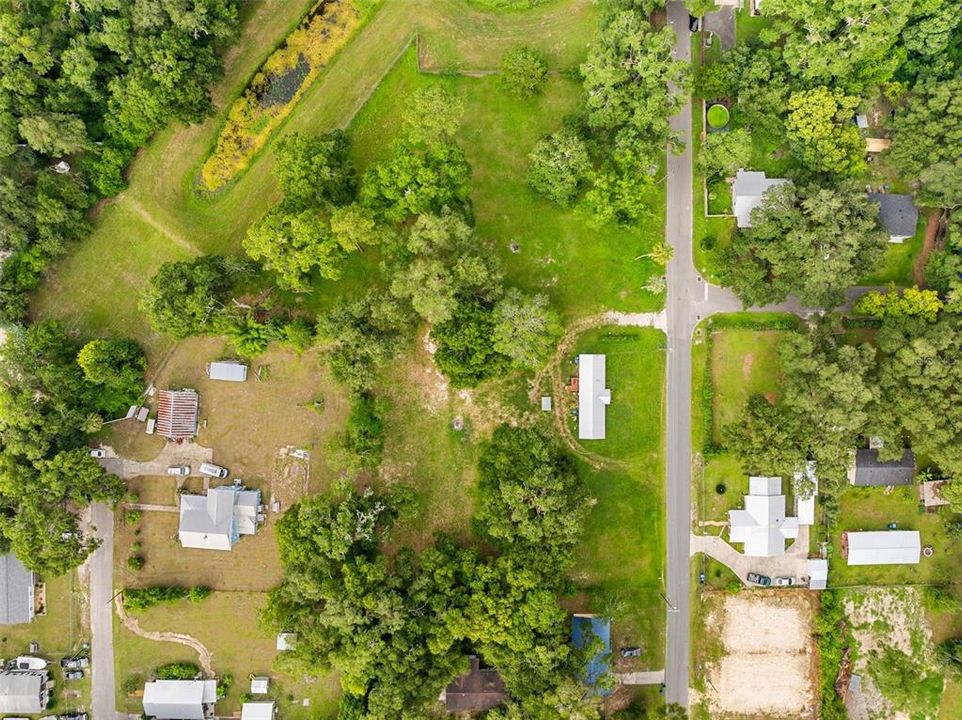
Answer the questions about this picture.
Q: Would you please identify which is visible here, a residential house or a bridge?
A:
residential house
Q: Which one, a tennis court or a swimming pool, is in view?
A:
swimming pool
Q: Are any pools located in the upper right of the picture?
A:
Yes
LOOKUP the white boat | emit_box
[13,655,57,668]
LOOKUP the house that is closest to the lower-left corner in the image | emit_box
[0,668,55,713]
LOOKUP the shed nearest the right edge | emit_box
[921,480,954,507]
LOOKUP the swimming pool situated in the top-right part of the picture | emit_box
[704,105,730,133]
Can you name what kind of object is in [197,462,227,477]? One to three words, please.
vehicle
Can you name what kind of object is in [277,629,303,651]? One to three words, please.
shed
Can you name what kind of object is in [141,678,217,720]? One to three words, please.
house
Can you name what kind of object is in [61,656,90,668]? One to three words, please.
vehicle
